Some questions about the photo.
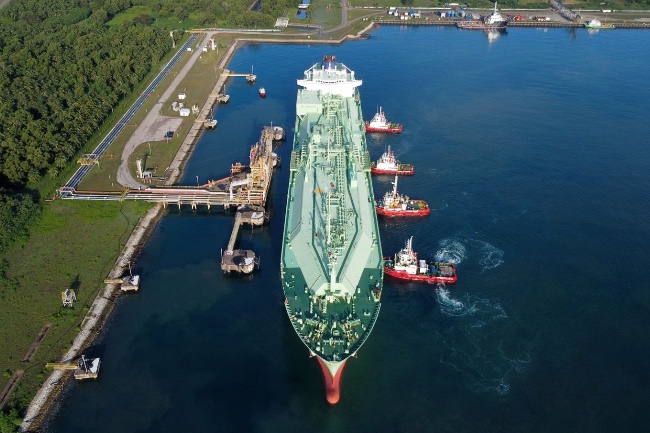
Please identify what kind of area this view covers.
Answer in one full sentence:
This image shows a port.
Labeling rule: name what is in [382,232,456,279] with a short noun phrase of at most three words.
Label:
boat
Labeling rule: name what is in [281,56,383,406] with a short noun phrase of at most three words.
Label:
ship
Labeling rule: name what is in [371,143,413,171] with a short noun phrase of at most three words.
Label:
boat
